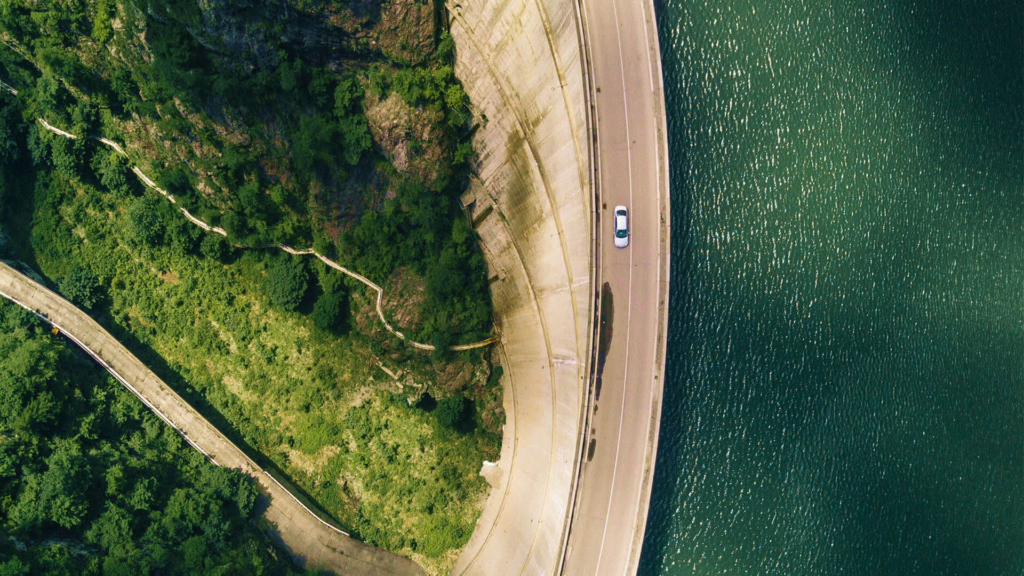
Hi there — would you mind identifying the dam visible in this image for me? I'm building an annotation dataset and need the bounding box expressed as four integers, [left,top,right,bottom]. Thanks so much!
[444,0,670,576]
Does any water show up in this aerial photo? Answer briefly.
Yes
